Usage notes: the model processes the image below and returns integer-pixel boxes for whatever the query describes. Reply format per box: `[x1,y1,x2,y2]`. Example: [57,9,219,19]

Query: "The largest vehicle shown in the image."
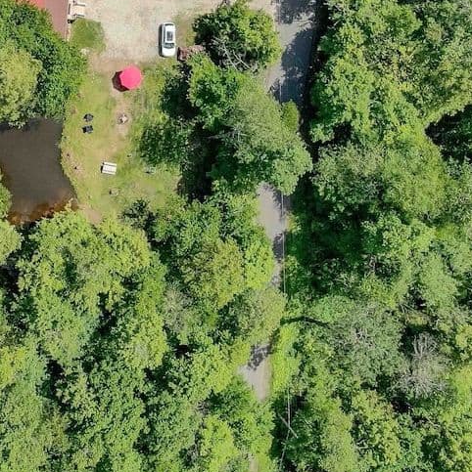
[160,22,178,57]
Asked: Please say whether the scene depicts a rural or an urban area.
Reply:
rural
